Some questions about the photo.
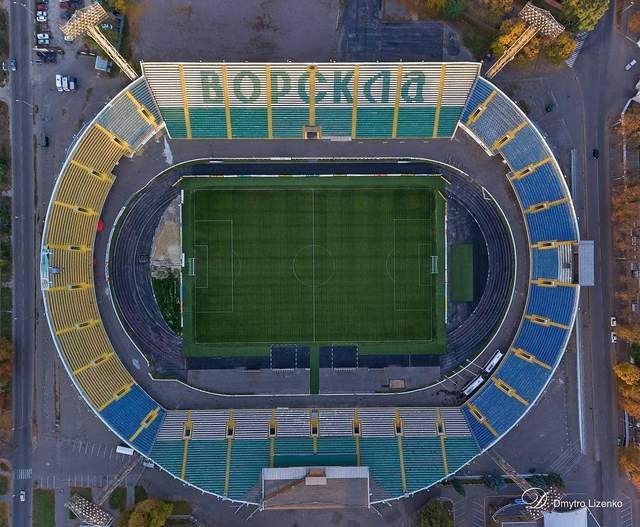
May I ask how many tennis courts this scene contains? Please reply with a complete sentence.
There are no tennis courts in the image.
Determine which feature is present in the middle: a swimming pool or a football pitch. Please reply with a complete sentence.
Looking in the middle, you will find a football pitch.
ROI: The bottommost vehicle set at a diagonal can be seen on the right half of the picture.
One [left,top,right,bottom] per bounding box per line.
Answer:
[461,374,486,396]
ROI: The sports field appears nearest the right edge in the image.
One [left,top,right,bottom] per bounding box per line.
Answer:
[451,244,473,302]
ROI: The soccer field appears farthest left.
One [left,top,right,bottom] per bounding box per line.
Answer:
[182,176,447,394]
